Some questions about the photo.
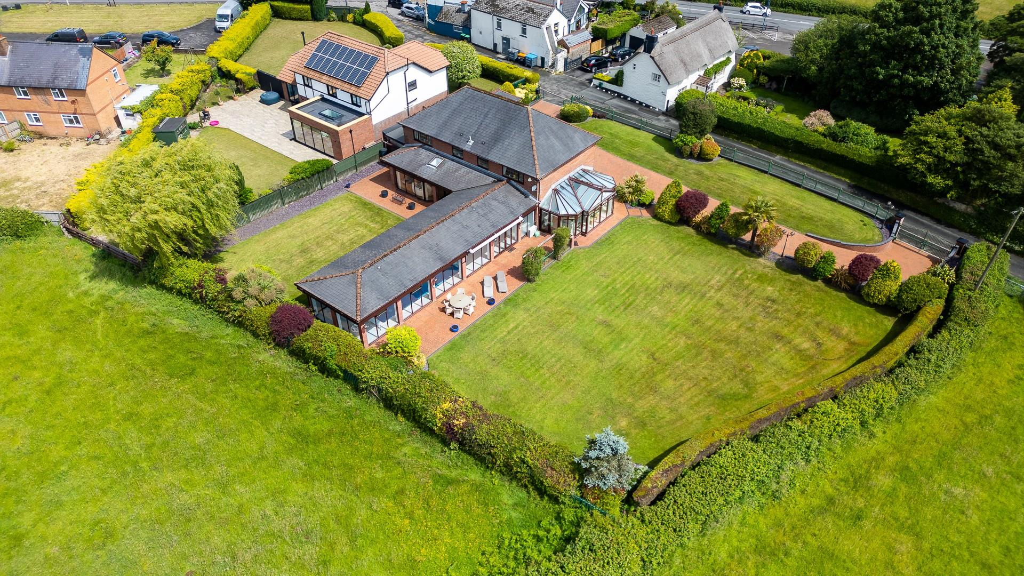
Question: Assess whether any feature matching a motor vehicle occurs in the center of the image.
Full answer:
No, the scene shows no motor vehicle in the center of the image.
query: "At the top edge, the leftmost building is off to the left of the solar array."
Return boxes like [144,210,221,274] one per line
[0,26,132,138]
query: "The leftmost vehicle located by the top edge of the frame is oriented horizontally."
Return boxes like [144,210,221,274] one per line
[41,24,86,42]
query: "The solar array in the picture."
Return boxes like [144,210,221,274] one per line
[301,42,380,87]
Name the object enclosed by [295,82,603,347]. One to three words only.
house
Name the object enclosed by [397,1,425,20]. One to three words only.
car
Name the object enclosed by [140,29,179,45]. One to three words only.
car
